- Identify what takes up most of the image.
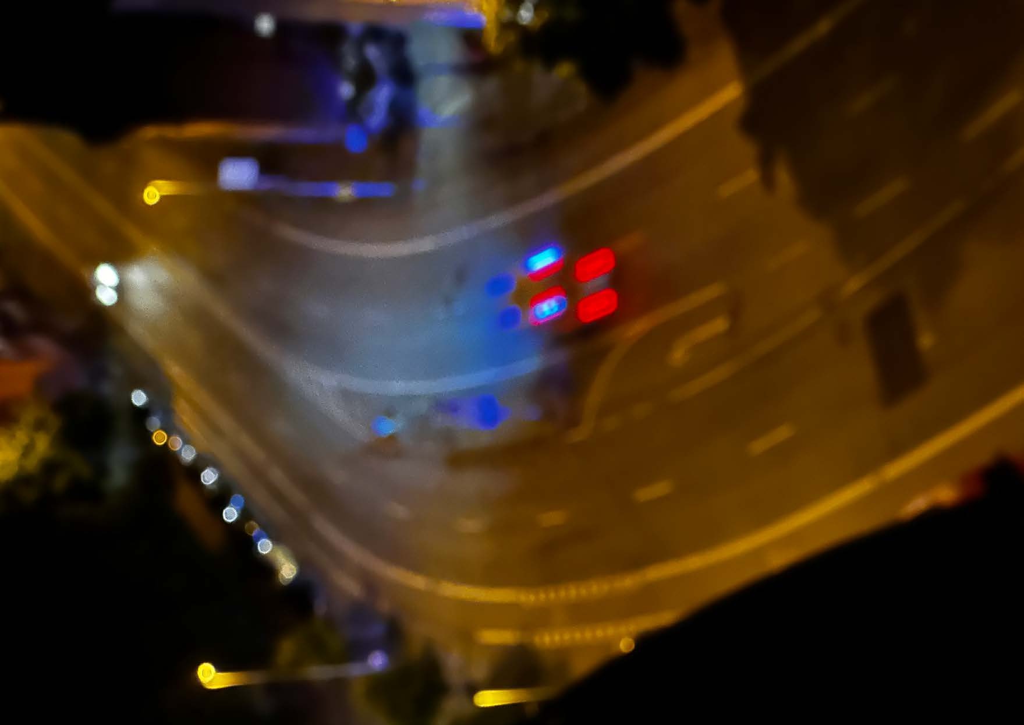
paved ground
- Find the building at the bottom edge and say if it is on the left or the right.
right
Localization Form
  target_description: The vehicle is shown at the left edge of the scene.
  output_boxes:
[44,265,111,307]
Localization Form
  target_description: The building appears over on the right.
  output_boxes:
[551,466,1024,725]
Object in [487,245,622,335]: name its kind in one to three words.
truck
